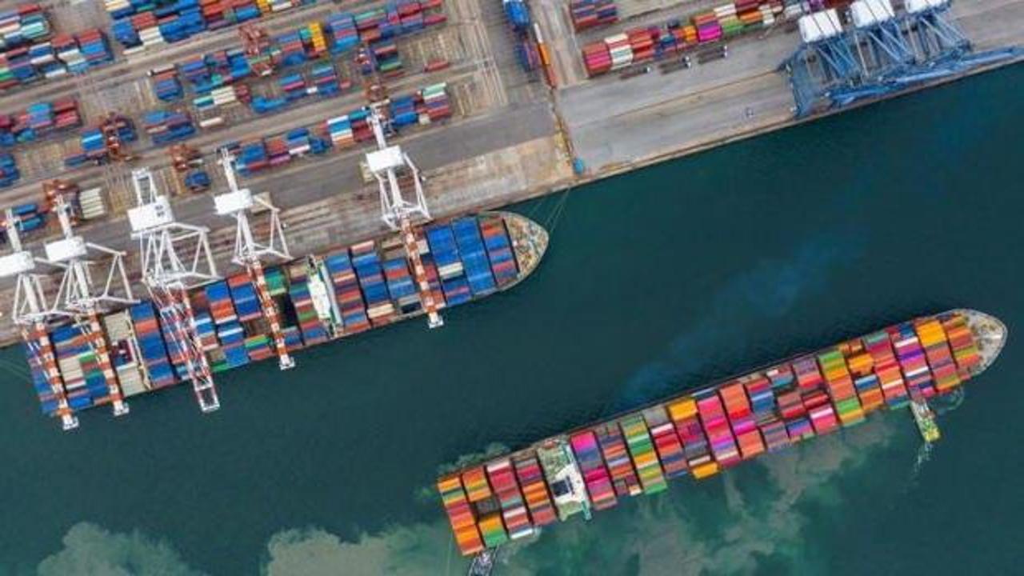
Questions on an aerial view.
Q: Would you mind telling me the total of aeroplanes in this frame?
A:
0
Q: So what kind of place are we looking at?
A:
port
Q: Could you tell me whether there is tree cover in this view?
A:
No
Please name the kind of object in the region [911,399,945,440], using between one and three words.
boat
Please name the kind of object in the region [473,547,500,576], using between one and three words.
boat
